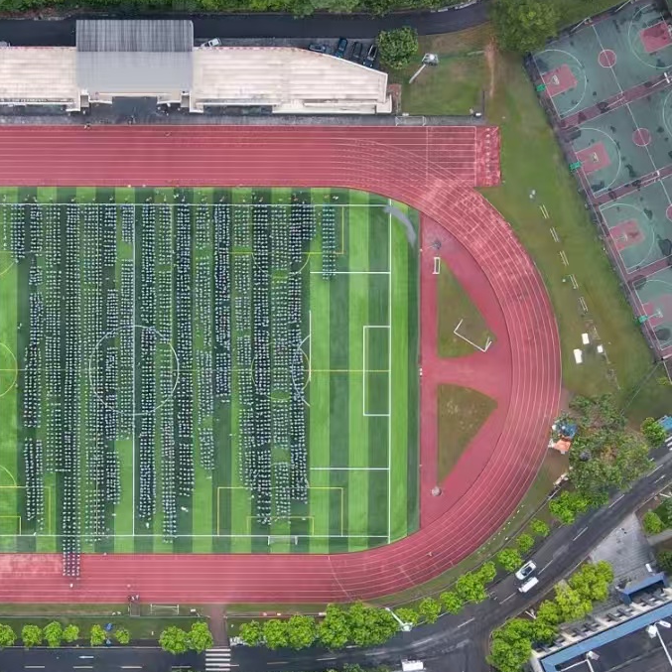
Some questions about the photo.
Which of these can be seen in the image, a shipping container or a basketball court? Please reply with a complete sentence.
The one in the frame is a basketball court.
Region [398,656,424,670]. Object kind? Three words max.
vehicle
